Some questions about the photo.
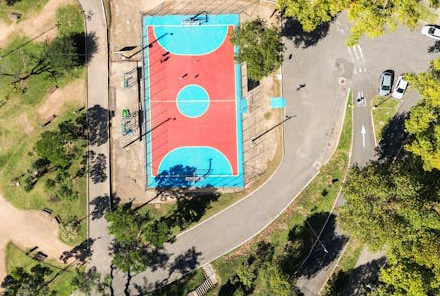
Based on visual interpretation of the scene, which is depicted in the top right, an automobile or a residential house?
automobile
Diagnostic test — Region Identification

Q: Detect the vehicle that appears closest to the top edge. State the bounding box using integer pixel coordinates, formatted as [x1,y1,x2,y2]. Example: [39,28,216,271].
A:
[420,24,440,40]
